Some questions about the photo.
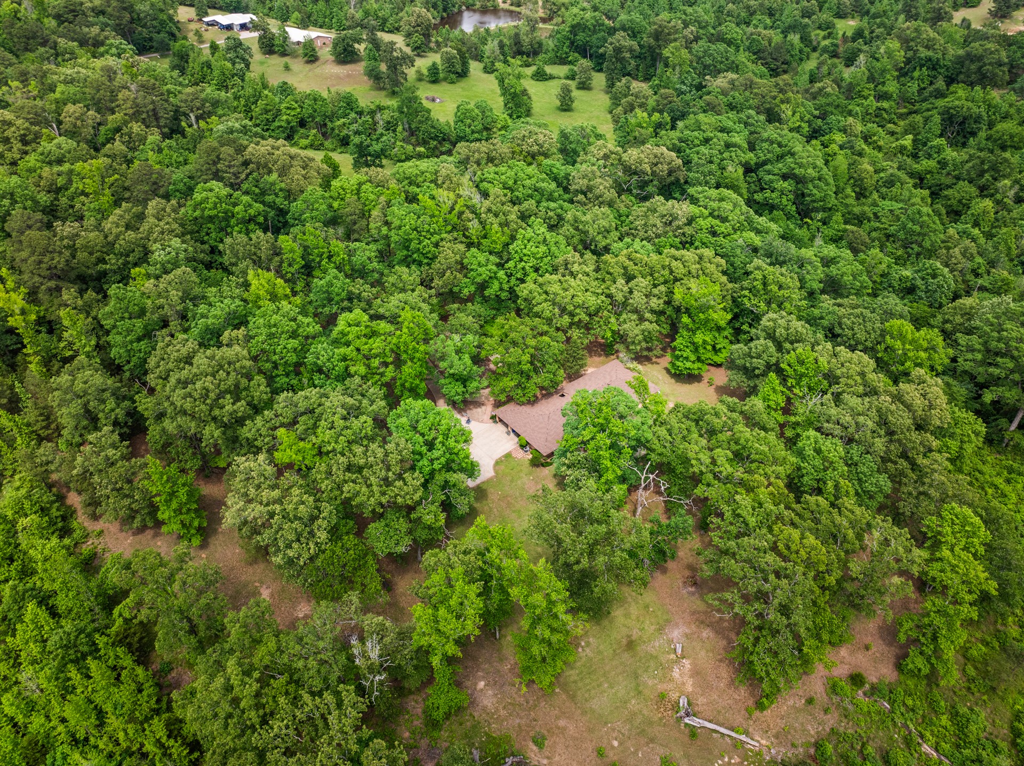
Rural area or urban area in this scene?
rural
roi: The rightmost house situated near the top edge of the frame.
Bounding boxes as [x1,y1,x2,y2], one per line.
[283,29,333,47]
